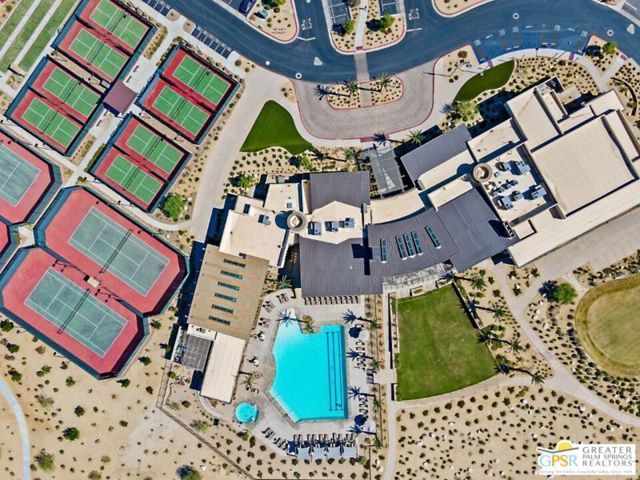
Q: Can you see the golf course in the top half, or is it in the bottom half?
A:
bottom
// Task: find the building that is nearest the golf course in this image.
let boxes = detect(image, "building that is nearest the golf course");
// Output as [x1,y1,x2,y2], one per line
[220,76,640,296]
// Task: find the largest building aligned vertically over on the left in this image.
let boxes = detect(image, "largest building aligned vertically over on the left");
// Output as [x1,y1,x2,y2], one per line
[180,245,269,402]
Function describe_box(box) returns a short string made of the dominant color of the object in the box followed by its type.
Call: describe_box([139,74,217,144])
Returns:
green sports court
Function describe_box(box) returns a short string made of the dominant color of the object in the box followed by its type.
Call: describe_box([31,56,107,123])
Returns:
green sports court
